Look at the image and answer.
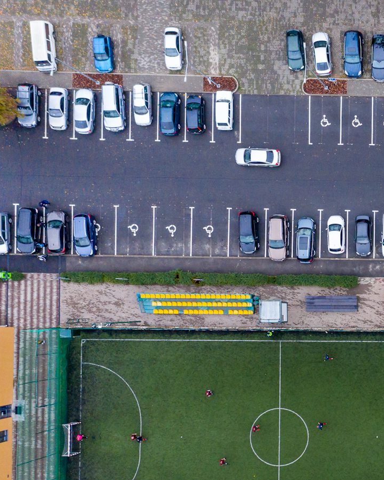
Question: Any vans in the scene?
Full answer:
Yes, there's a van down there.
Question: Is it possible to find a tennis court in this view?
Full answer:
No, I can see no tennis court in this picture.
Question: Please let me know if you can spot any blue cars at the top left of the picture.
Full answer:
Yes, the scene does show a blue car at the top left of the picture.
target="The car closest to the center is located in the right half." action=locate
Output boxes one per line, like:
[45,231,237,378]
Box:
[238,210,261,254]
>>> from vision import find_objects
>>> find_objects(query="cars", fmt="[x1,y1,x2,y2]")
[370,35,384,83]
[294,217,318,264]
[46,87,71,131]
[0,212,13,254]
[157,92,182,136]
[237,146,282,167]
[101,81,127,131]
[14,83,43,128]
[267,214,290,261]
[45,210,71,254]
[325,215,347,254]
[285,30,307,72]
[238,210,261,254]
[183,95,207,134]
[352,215,373,257]
[73,214,98,257]
[71,89,98,135]
[16,207,44,254]
[131,83,154,127]
[162,27,185,71]
[89,32,116,73]
[213,91,236,131]
[341,30,365,79]
[310,33,334,77]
